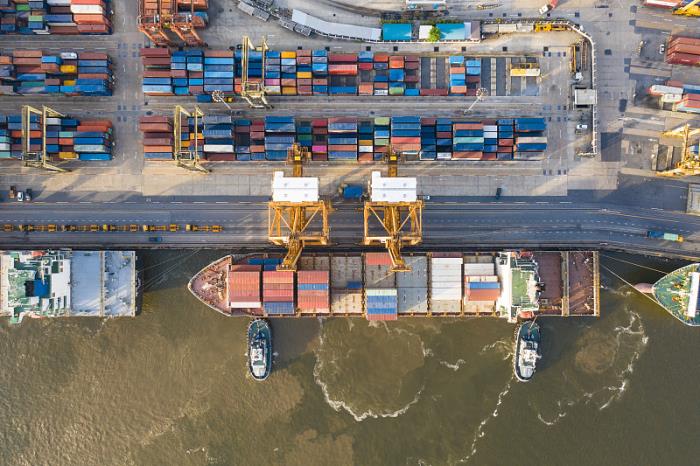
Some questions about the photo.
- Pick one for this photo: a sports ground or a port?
port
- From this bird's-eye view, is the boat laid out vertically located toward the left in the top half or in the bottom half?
bottom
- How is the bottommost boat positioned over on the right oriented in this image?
vertically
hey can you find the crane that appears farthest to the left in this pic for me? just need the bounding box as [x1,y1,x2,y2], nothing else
[16,105,68,173]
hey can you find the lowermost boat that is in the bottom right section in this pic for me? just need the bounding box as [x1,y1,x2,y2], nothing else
[513,320,540,382]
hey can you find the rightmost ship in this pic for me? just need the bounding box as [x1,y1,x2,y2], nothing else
[635,266,700,325]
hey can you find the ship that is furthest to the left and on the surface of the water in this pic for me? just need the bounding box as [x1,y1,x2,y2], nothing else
[0,249,145,325]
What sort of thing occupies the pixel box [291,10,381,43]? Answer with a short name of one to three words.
shed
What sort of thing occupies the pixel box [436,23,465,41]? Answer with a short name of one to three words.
building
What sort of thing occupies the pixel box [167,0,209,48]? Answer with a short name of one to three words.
container crane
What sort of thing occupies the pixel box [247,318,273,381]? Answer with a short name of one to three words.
boat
